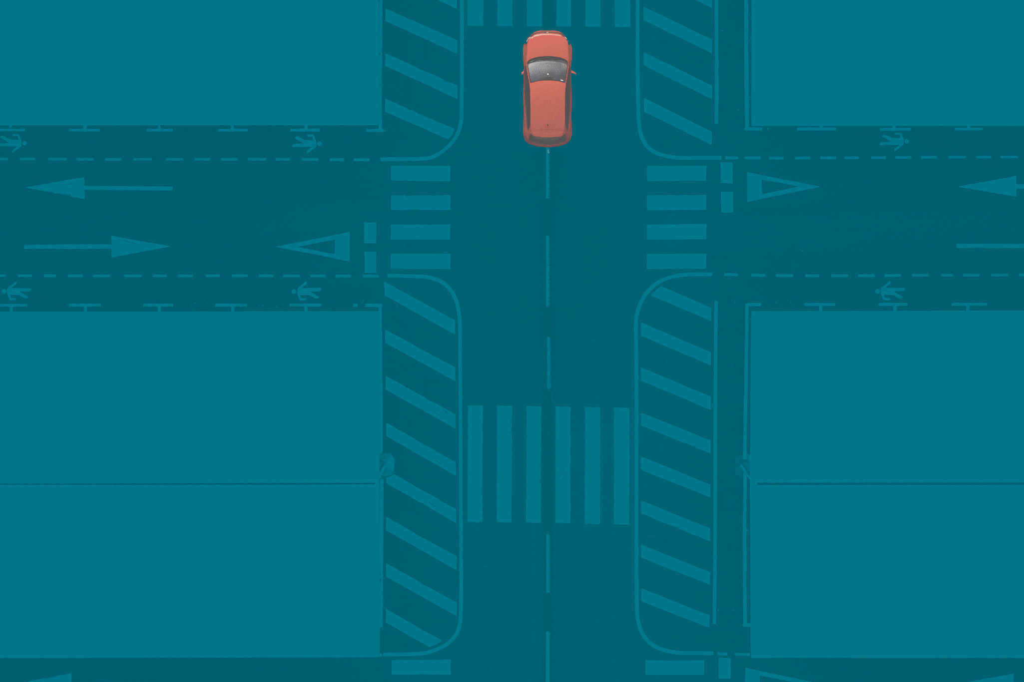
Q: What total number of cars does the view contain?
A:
one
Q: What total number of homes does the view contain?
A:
zero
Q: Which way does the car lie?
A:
up and down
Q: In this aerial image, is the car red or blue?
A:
red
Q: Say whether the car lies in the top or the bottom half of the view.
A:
top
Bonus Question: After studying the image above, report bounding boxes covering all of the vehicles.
[521,30,577,147]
